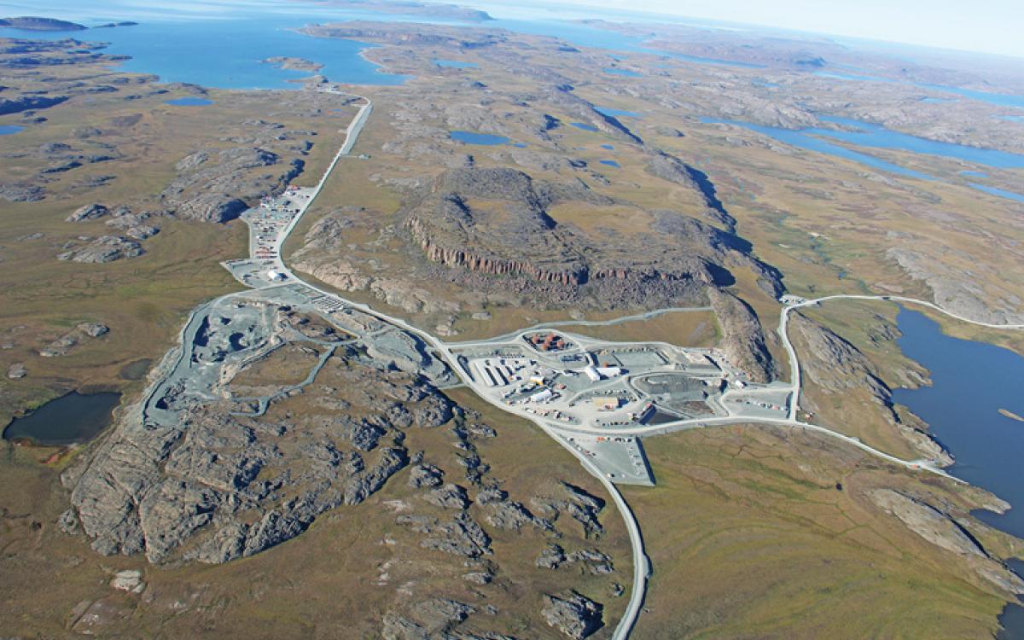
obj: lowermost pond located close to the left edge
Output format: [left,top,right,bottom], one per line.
[2,392,121,444]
